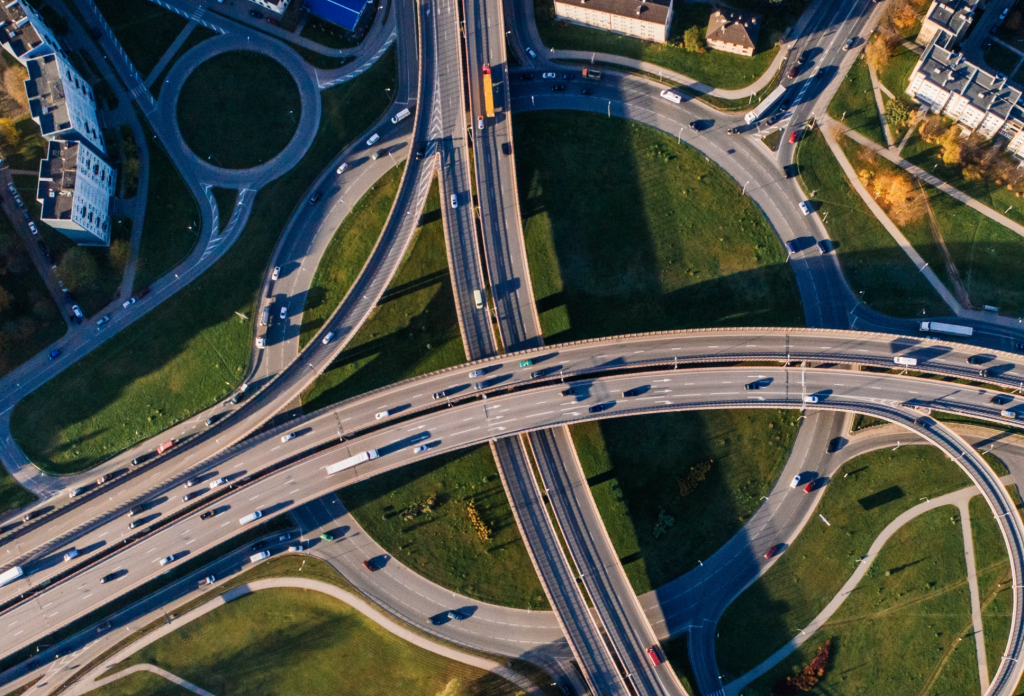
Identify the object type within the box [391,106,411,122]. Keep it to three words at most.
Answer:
vehicle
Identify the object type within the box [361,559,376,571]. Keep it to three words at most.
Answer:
vehicle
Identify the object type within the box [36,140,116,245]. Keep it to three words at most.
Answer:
building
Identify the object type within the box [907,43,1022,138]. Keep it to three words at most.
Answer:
building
